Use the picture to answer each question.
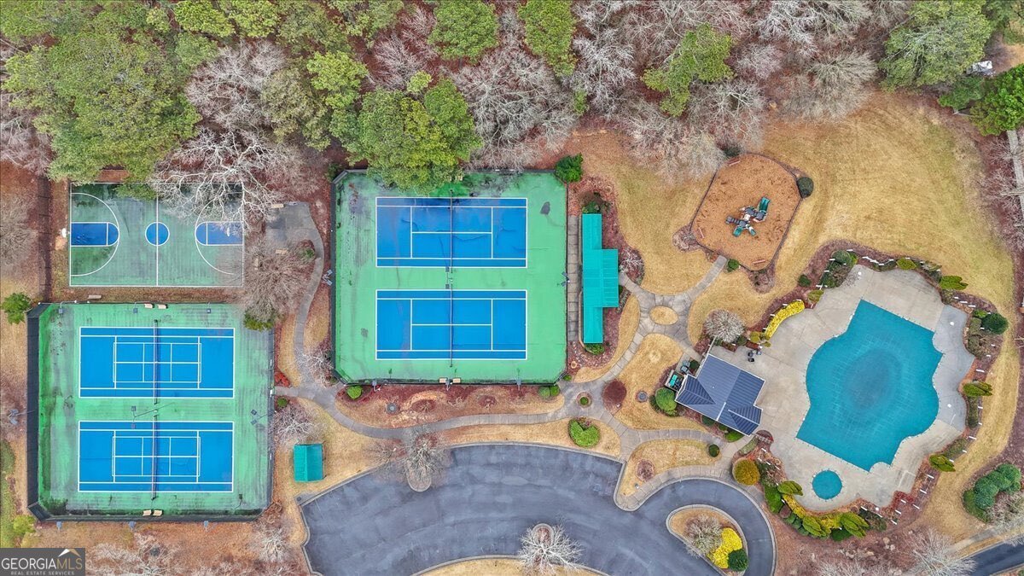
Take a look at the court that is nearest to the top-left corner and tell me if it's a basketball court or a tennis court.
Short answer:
basketball court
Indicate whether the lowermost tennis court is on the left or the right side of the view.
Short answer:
left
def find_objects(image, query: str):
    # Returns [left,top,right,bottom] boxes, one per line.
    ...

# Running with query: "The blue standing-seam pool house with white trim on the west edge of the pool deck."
[675,354,765,436]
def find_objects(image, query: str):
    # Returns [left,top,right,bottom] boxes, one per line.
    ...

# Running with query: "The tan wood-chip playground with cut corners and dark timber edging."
[690,151,804,273]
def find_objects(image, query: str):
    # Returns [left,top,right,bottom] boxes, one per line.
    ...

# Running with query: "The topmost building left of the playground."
[582,214,618,344]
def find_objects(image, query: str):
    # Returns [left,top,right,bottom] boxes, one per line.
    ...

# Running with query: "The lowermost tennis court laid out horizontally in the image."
[39,410,269,514]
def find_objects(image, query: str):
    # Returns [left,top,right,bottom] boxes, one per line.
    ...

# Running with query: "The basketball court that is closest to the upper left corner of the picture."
[68,181,245,288]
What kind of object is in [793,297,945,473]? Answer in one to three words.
swimming pool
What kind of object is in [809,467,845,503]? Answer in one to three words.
swimming pool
